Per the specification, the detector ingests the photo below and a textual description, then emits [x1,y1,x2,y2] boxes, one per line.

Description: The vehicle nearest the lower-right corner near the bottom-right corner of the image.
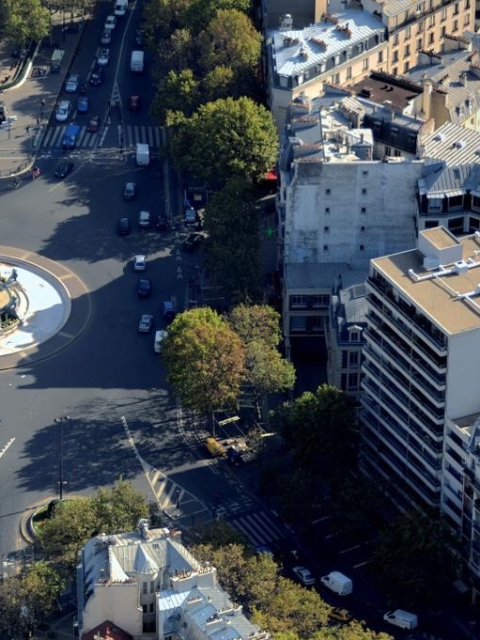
[384,606,419,630]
